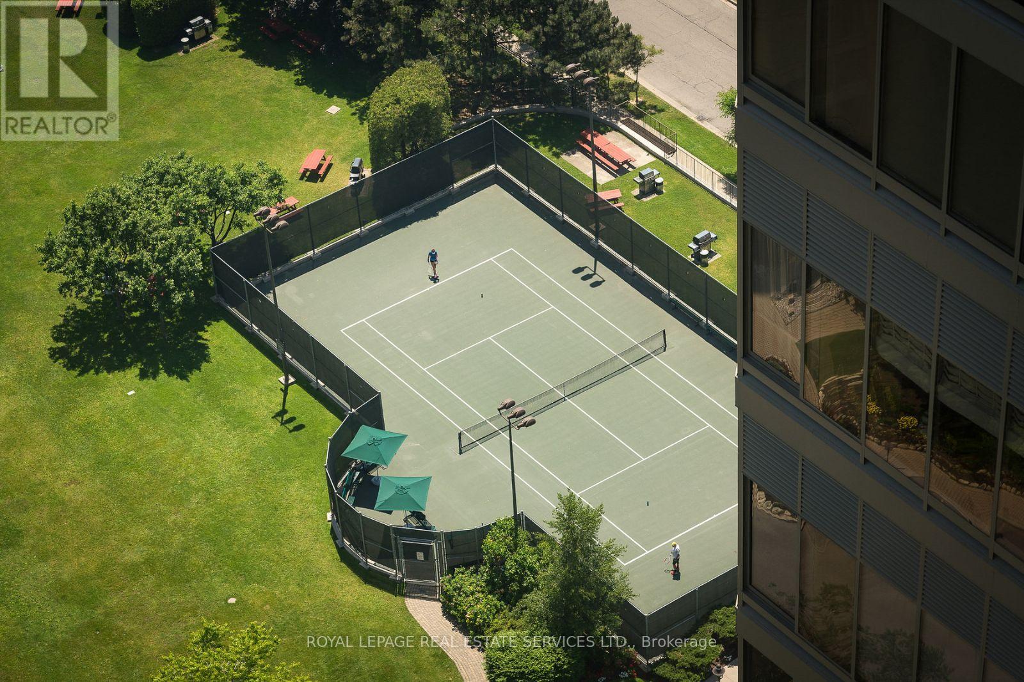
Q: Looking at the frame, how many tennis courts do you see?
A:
one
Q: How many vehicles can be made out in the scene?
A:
0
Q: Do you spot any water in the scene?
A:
No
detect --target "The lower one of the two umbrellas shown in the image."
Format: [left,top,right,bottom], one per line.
[375,476,432,528]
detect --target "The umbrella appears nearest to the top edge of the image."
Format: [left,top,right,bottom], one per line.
[342,425,408,487]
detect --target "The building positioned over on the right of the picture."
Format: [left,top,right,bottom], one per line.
[733,0,1024,682]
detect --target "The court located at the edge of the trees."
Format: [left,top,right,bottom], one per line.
[221,169,736,659]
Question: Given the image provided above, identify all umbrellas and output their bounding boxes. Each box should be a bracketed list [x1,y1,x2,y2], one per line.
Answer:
[342,425,408,487]
[375,476,432,528]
